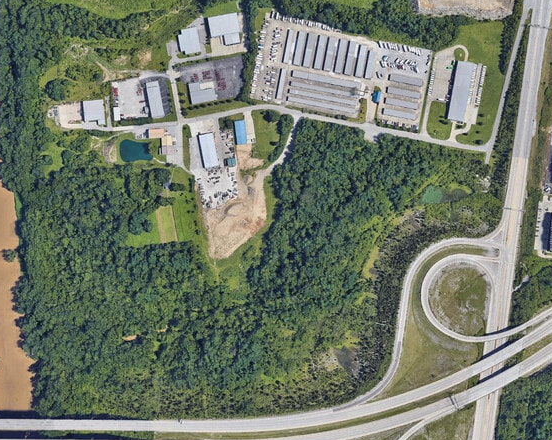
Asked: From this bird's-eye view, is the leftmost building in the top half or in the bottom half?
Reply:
top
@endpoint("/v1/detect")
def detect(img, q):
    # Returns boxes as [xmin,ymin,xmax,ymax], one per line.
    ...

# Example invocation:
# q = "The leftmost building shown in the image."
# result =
[84,100,105,125]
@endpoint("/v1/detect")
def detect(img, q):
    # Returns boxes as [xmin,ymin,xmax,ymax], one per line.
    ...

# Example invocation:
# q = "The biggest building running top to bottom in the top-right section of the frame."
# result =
[448,62,477,121]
